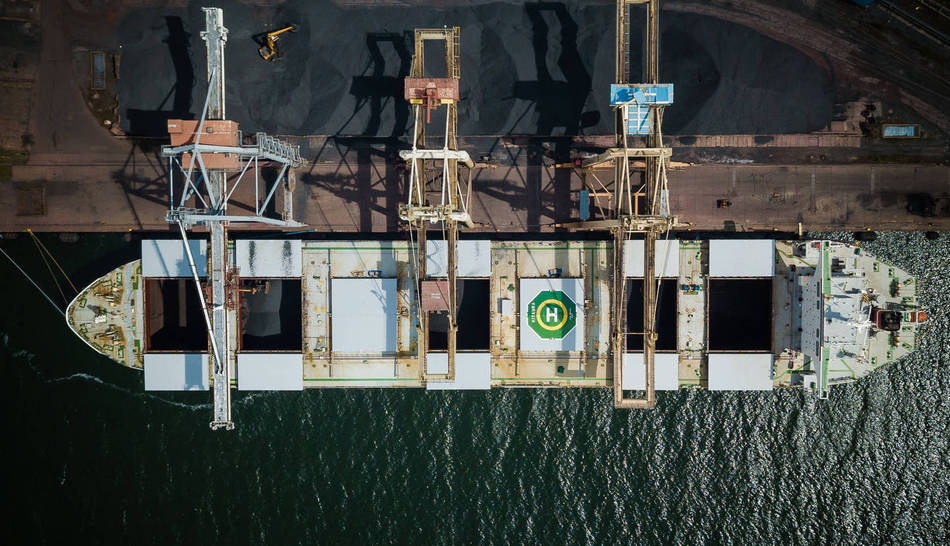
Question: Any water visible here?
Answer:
Yes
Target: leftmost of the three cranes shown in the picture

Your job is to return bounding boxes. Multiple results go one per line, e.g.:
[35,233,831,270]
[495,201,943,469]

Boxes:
[157,7,317,431]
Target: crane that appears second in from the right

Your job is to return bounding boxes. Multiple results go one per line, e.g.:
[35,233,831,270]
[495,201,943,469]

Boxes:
[386,28,497,385]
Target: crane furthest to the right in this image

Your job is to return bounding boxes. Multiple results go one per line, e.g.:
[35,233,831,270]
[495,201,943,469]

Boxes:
[547,0,702,408]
